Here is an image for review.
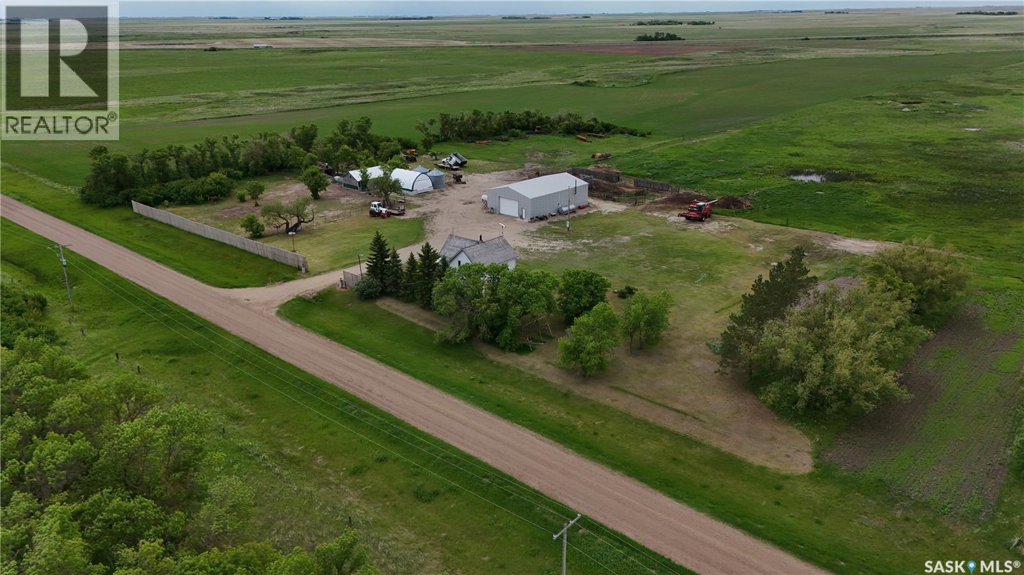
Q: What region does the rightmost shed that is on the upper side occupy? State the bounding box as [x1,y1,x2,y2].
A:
[486,173,591,222]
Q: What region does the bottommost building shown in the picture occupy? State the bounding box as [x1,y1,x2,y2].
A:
[440,223,519,277]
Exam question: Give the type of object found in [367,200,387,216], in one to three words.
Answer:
work vehicle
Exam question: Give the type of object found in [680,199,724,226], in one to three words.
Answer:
work vehicle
